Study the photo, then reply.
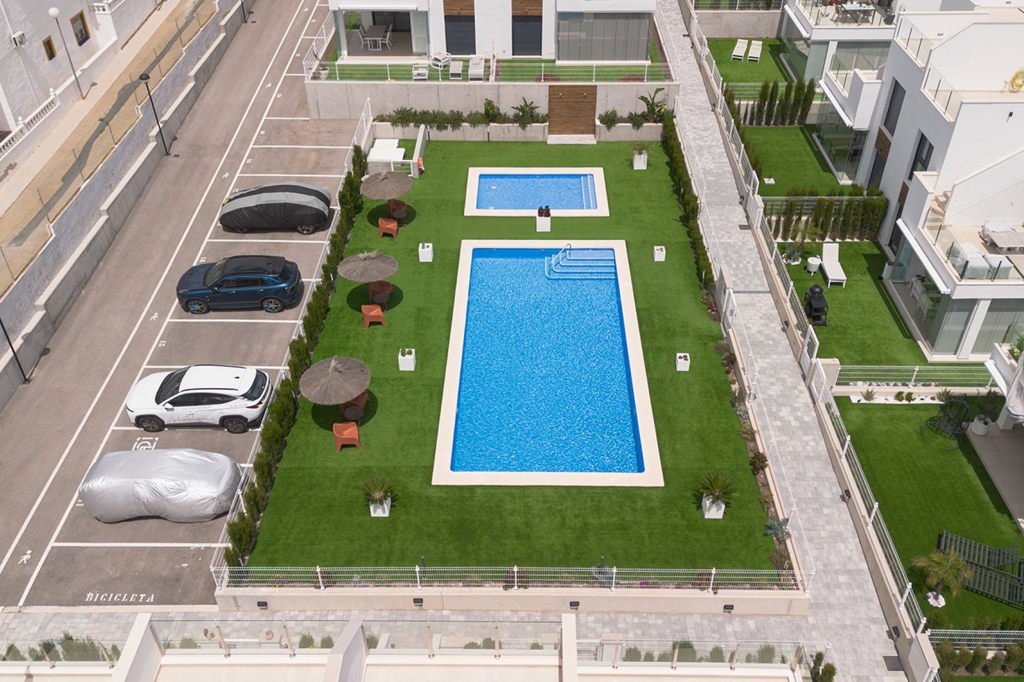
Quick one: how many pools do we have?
2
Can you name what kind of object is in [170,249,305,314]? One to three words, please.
car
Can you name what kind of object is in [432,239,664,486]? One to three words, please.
swimming pool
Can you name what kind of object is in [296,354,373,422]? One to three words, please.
umbrella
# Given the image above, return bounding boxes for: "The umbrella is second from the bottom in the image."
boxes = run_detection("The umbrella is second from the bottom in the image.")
[332,250,397,303]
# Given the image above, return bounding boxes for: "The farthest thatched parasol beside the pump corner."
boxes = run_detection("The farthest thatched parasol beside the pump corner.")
[362,168,413,219]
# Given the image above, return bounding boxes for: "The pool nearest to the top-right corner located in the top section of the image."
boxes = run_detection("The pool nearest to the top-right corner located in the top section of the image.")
[464,167,610,216]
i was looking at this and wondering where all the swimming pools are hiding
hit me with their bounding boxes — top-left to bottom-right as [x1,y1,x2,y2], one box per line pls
[432,239,664,486]
[464,167,610,216]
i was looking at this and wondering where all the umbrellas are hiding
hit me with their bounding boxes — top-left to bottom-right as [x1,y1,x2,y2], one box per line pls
[362,168,413,219]
[296,354,373,422]
[332,250,397,303]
